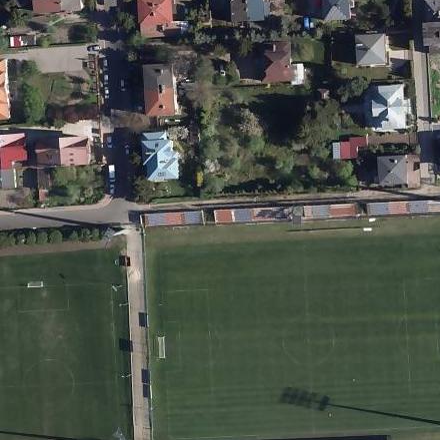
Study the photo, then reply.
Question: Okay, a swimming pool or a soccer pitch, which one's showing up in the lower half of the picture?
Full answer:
There is a soccer pitch in the lower half of the picture.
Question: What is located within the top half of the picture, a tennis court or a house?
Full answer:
The one visible within the top half of the picture is a house.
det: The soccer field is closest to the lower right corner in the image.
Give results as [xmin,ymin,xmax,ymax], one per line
[144,214,440,440]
